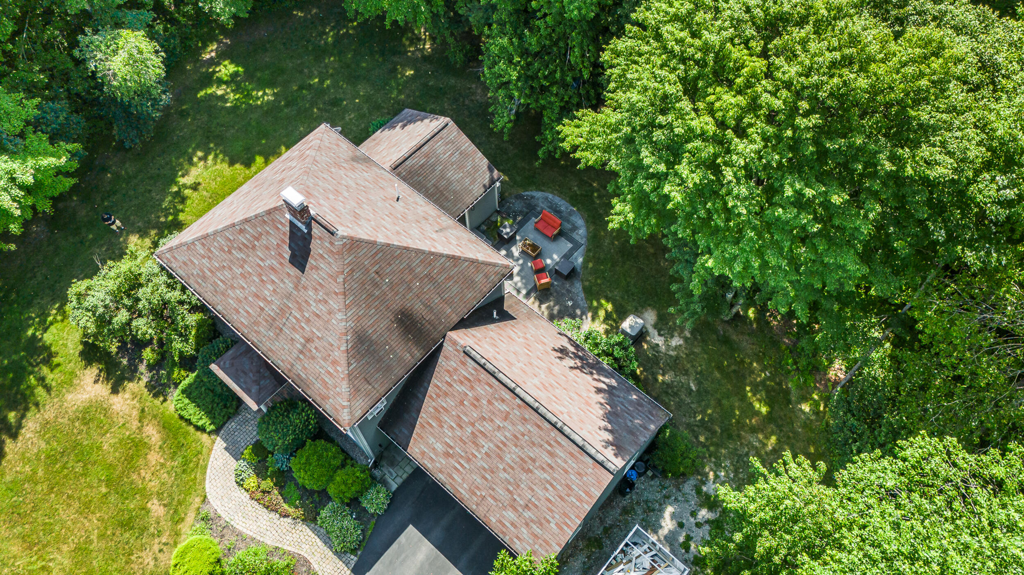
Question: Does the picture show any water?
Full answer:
No, the scene doesn't show any water.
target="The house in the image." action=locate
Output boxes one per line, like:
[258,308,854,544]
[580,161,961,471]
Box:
[155,109,673,575]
